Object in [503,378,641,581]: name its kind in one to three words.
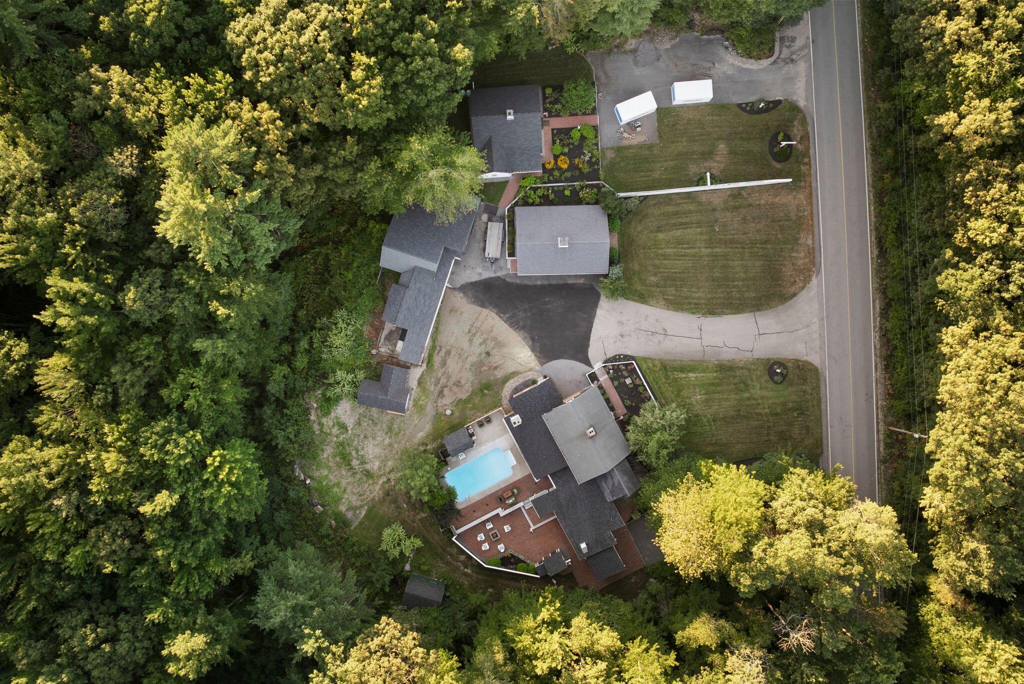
house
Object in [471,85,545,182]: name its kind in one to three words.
house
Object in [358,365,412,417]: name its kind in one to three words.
shed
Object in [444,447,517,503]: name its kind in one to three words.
swimming pool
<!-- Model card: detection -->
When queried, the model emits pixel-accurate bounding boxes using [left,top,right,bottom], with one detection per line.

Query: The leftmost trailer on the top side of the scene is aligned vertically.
[483,217,506,265]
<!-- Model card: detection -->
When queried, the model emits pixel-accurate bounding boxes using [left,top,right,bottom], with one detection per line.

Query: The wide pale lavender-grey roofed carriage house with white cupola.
[516,205,610,276]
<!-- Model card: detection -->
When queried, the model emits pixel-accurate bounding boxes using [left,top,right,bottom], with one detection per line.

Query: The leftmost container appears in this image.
[617,87,658,122]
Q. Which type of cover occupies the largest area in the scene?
trees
